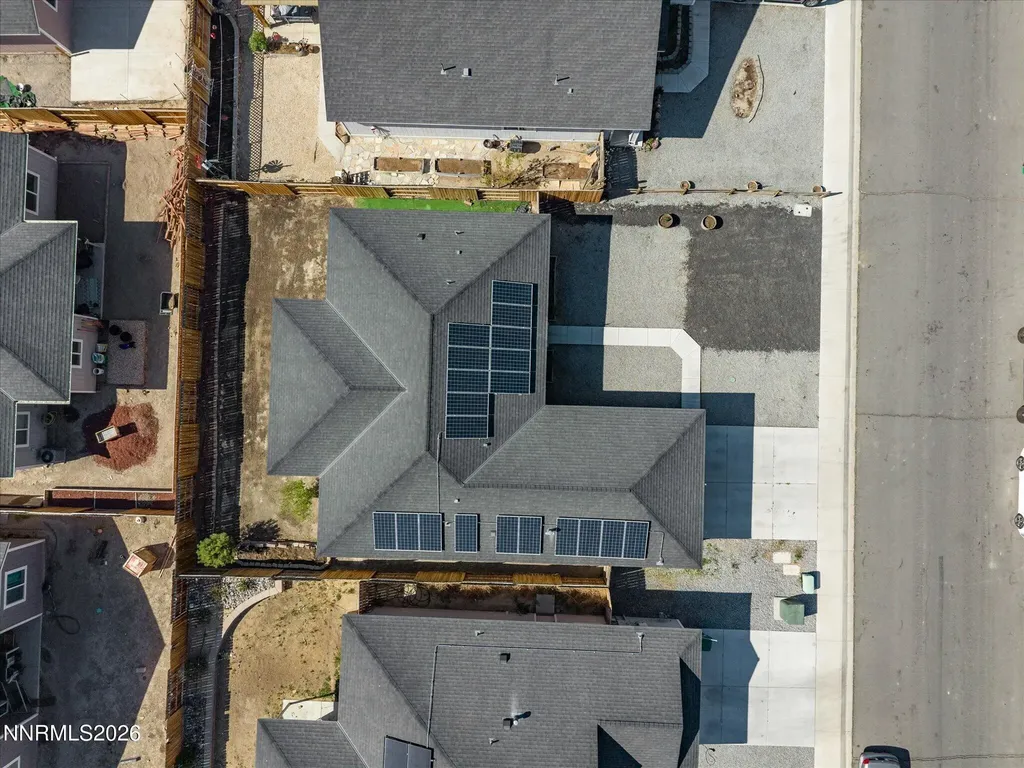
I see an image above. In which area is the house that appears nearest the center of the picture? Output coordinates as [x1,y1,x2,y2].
[266,206,707,569]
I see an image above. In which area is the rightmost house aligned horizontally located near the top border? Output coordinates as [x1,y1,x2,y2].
[316,0,662,145]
